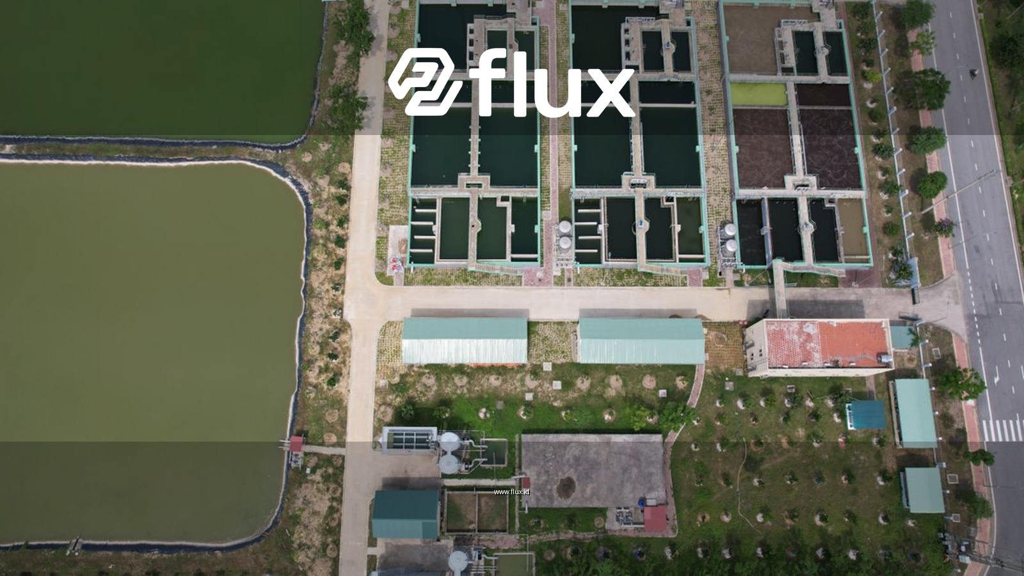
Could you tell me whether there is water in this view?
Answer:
Yes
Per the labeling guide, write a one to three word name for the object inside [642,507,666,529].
building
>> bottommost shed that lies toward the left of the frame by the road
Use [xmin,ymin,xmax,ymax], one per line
[372,490,440,538]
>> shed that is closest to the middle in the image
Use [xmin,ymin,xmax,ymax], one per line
[402,318,527,365]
